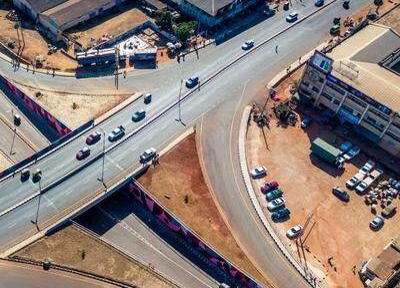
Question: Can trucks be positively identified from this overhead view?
Yes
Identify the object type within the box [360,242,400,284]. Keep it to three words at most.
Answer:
shed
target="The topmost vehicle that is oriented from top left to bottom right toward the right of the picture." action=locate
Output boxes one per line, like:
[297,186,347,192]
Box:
[312,132,345,164]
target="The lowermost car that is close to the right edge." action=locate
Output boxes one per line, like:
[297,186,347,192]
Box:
[369,215,385,229]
